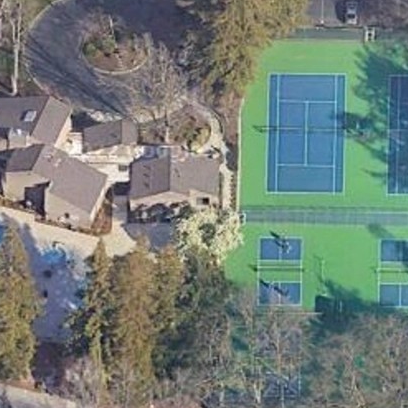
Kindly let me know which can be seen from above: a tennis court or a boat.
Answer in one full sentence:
The image shows a tennis court.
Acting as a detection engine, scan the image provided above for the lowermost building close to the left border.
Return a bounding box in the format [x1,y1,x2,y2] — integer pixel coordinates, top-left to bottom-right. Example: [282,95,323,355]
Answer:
[5,144,107,224]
